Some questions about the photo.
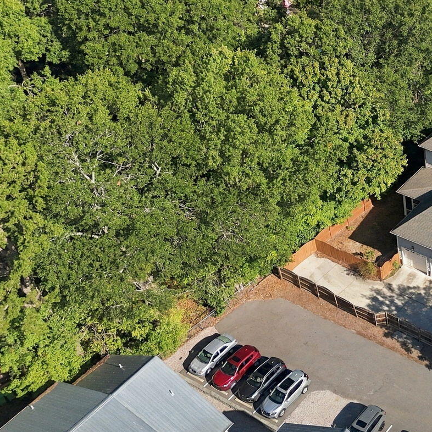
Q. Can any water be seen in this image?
No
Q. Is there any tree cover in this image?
Yes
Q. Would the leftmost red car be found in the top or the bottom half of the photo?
bottom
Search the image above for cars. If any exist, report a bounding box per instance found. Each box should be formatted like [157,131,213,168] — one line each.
[215,336,266,387]
[239,350,290,401]
[263,365,314,418]
[344,397,391,432]
[191,325,243,373]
